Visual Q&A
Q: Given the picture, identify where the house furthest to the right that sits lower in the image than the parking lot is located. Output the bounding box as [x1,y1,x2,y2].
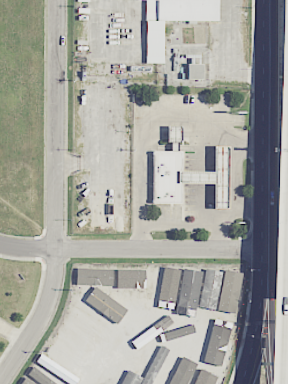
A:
[219,270,244,314]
